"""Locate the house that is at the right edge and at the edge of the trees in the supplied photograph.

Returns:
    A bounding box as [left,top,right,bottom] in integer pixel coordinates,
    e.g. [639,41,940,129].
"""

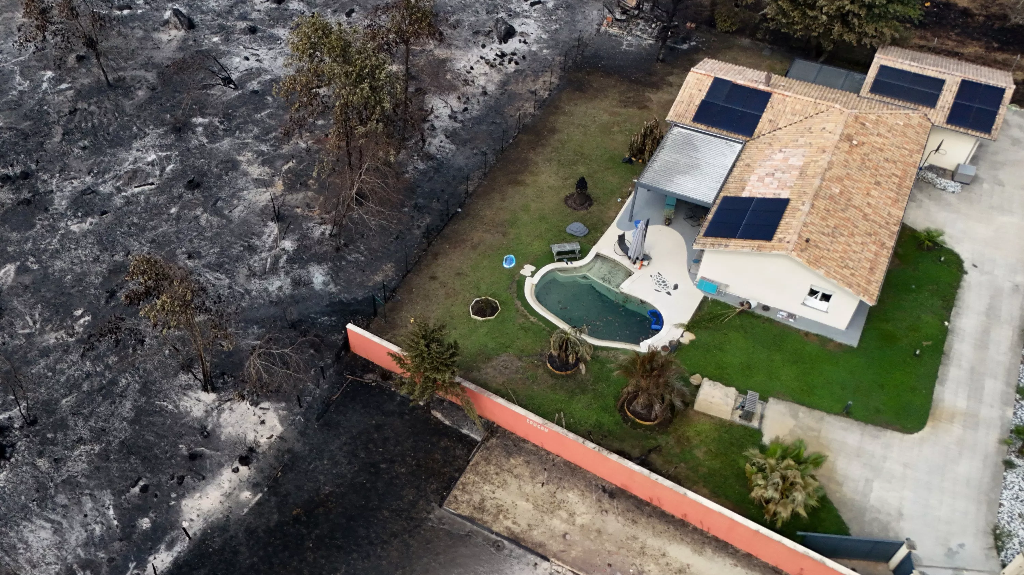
[666,43,1014,330]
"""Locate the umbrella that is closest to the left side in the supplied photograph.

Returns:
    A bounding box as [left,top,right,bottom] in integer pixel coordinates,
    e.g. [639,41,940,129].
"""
[626,218,652,260]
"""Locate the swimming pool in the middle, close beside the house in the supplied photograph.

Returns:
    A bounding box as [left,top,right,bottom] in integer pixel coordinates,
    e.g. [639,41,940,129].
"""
[524,245,665,353]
